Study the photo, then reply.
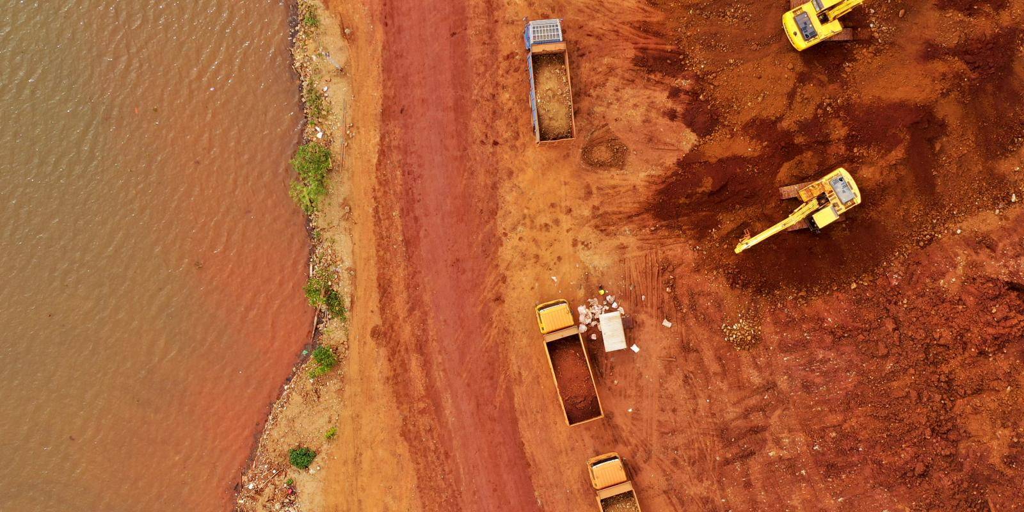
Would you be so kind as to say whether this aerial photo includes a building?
No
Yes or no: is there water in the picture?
Yes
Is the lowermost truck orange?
Yes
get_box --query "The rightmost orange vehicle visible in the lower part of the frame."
[584,447,641,512]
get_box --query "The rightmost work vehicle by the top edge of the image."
[780,0,879,52]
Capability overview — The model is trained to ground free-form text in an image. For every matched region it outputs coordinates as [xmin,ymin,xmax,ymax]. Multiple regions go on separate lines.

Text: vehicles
[584,447,641,512]
[533,299,603,427]
[780,0,879,52]
[525,17,578,147]
[730,168,860,252]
